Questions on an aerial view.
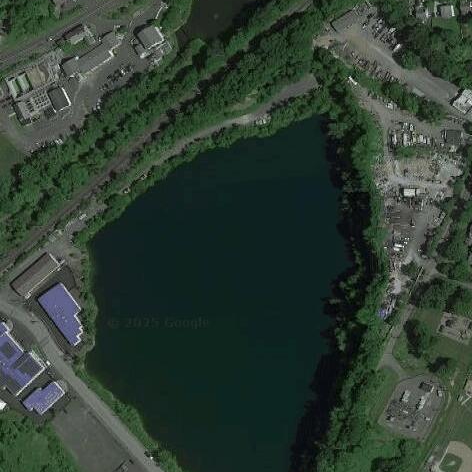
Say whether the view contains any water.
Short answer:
Yes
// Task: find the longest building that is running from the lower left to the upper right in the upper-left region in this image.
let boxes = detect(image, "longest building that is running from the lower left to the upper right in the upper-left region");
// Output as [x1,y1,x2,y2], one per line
[63,32,126,76]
